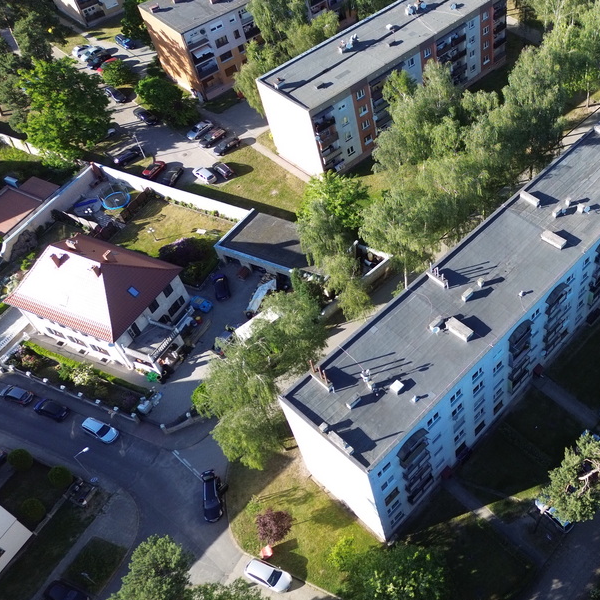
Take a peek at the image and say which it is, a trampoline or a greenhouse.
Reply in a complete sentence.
Looking from above, you can make out a trampoline.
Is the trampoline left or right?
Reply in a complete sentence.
You can find the trampoline on the left side of the picture.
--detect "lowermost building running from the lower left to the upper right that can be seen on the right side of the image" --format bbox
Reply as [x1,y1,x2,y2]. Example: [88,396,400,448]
[277,119,600,540]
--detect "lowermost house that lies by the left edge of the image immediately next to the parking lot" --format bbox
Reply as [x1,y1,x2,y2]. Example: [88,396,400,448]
[2,231,206,376]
